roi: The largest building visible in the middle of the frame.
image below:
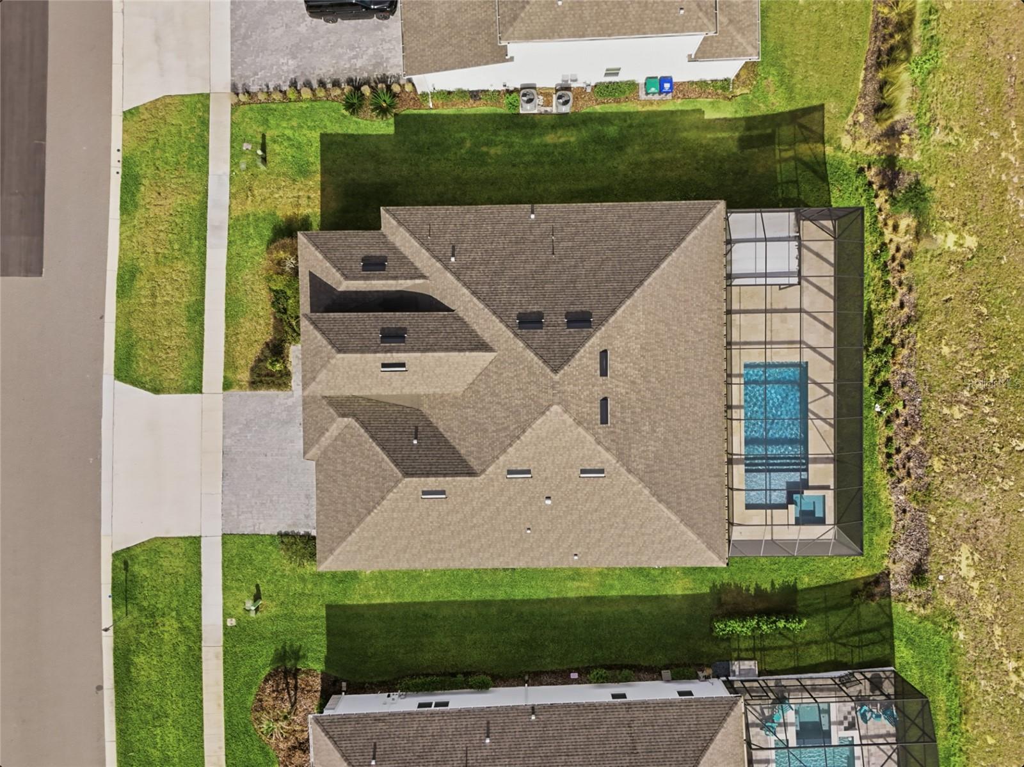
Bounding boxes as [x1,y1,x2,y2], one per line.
[296,199,729,572]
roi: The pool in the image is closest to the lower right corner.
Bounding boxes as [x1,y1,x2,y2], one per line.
[769,697,861,767]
